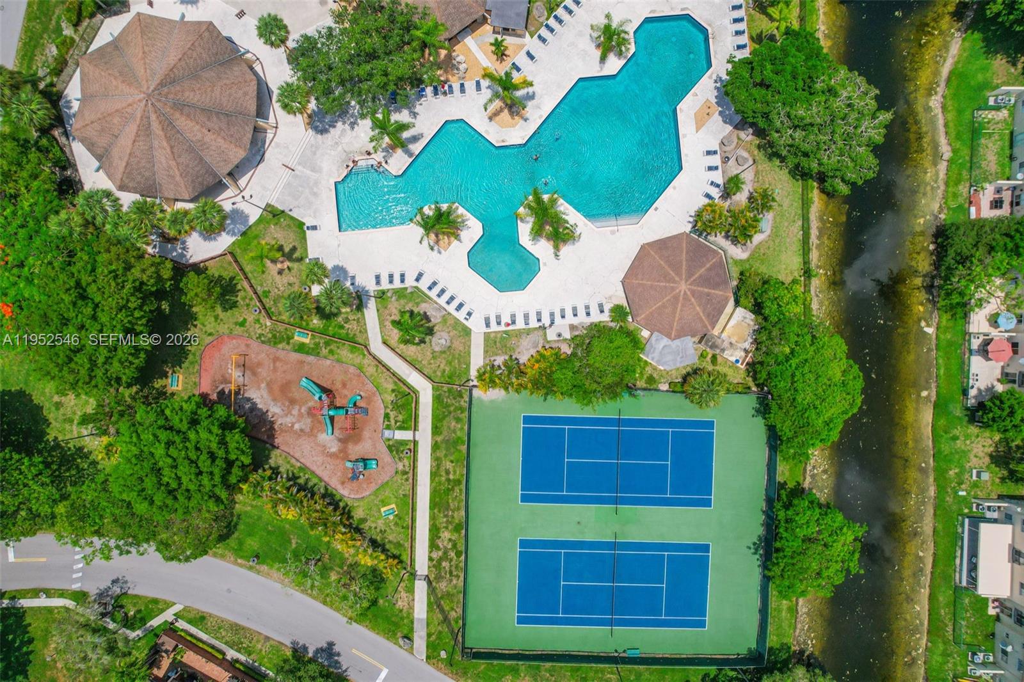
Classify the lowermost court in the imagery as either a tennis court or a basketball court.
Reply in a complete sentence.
In the photo, the lowermost court shows up as a tennis court.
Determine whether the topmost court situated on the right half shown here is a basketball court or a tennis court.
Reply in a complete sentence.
The topmost court situated on the right half in the image is a tennis court.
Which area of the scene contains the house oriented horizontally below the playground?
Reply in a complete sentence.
The house oriented horizontally below the playground sits in the bottom left section of the image.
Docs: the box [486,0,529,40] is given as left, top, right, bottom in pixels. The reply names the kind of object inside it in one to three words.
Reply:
shed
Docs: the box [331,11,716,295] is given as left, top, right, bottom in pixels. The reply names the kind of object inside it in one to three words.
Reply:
swimming pool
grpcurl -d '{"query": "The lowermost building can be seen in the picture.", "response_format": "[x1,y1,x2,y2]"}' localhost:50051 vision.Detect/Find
[130,634,246,682]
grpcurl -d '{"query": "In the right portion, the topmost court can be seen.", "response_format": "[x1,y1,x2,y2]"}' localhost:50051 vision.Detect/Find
[469,388,767,528]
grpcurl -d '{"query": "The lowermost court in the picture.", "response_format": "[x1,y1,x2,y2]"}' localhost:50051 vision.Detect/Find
[466,525,760,654]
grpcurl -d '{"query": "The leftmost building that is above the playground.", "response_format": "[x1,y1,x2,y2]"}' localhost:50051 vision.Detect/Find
[72,13,279,215]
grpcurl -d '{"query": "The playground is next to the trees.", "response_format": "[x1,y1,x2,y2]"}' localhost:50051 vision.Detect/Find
[198,334,397,499]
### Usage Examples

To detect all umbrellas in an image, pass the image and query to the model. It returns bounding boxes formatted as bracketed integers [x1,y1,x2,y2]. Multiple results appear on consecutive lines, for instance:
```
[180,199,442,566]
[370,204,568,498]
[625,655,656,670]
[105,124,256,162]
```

[990,311,1015,332]
[985,338,1011,363]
